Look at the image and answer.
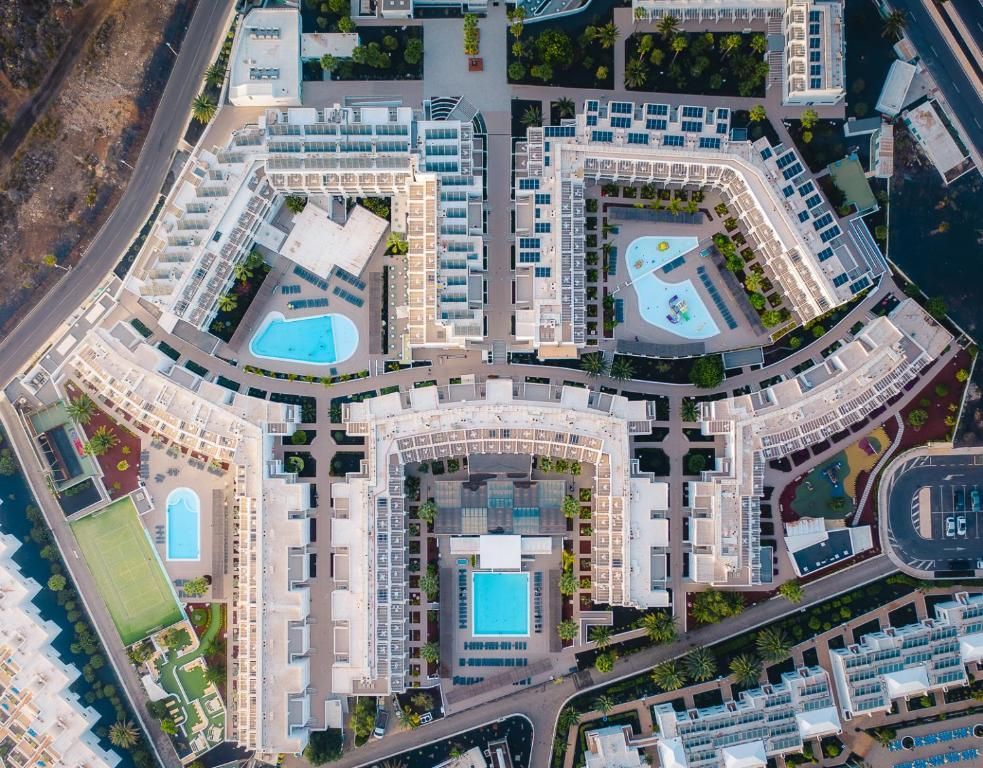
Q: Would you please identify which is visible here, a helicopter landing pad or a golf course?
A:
golf course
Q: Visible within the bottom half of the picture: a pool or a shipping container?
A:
pool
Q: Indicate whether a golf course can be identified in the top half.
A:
No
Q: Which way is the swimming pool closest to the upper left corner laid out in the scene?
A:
from side to side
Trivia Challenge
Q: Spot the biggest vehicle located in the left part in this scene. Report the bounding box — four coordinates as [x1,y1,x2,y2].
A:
[374,711,387,739]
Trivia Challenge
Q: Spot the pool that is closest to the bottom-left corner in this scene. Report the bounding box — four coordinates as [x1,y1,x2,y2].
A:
[165,488,200,561]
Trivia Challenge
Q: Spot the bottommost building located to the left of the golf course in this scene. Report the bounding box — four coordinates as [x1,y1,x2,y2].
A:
[0,551,122,768]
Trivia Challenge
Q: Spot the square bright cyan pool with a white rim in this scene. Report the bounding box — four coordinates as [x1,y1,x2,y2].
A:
[472,572,530,636]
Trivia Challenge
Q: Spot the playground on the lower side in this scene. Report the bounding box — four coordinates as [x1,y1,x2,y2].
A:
[794,430,888,517]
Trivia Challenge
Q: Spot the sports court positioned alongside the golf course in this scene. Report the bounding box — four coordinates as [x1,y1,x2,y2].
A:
[62,496,185,652]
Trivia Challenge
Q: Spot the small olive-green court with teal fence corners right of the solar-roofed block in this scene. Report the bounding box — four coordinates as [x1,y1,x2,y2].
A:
[827,152,881,207]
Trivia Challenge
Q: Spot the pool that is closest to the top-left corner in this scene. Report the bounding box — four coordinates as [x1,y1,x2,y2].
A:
[250,313,358,365]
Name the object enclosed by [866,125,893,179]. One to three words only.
building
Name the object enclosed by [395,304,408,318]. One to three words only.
umbrella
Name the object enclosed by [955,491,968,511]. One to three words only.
vehicle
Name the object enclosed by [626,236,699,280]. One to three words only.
swimming pool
